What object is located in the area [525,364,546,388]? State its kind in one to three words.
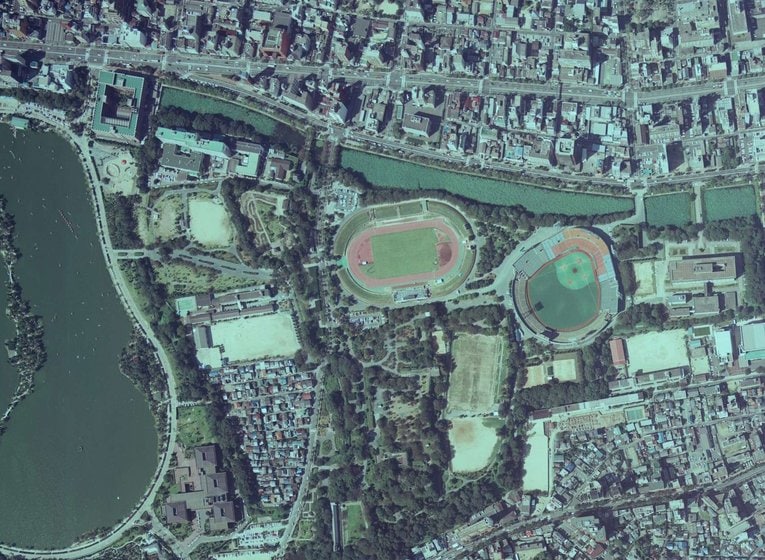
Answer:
tennis court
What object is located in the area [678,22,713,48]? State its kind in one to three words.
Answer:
building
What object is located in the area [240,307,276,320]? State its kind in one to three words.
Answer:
building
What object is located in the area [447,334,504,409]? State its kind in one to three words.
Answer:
sports field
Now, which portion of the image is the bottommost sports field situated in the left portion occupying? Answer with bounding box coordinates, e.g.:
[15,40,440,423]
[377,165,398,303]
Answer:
[211,311,300,363]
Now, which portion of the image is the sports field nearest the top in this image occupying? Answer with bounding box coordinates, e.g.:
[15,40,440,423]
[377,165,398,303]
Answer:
[355,225,453,279]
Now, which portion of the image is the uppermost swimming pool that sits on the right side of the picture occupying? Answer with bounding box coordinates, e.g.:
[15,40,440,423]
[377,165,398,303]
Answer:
[687,326,713,339]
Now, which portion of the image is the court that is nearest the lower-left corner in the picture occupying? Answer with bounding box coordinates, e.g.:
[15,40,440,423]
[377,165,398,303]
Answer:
[197,346,222,368]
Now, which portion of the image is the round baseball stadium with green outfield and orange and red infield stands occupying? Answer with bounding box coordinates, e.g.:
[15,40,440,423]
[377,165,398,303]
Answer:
[512,225,619,343]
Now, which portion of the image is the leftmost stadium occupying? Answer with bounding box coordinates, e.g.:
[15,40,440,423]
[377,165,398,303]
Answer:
[327,198,481,306]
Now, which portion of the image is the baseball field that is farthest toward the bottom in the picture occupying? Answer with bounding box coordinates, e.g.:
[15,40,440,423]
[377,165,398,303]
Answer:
[450,417,506,471]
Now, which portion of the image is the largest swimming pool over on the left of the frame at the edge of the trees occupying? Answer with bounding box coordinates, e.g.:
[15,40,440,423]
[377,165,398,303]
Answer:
[176,296,197,317]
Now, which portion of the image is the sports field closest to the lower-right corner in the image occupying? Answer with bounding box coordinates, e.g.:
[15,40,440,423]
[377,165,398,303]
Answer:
[627,329,690,376]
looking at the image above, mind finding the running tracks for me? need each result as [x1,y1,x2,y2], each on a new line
[348,219,460,285]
